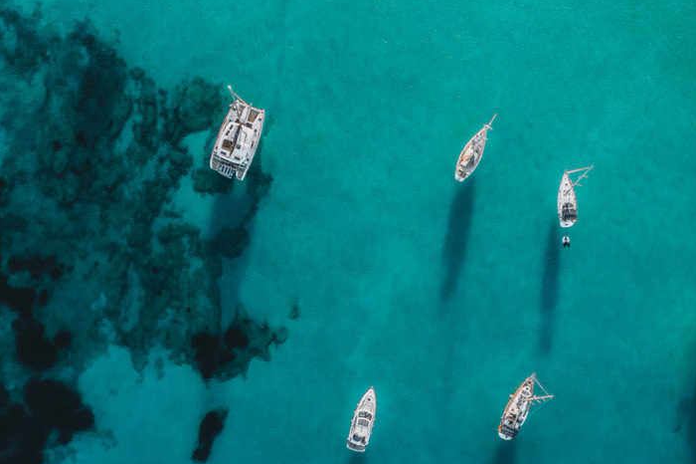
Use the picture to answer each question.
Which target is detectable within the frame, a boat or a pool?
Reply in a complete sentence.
There is a boat in the scene.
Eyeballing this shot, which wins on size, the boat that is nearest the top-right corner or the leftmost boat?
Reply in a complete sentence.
Of the two, the leftmost boat is bigger, while the boat that is nearest the top-right corner is smaller.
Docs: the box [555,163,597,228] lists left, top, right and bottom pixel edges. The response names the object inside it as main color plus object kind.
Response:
white boat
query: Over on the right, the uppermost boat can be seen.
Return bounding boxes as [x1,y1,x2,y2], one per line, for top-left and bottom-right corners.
[456,116,496,183]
